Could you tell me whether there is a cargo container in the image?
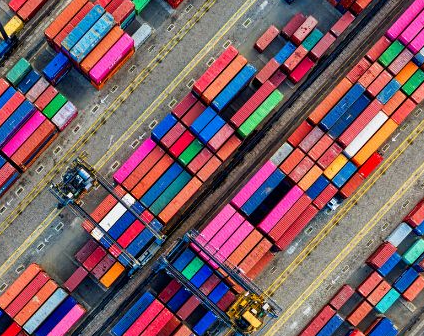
Yes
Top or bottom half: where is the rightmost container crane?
bottom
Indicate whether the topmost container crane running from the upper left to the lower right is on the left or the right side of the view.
left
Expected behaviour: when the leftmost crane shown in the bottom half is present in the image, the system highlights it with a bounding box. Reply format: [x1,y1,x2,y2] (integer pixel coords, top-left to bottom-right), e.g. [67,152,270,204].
[51,155,170,275]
